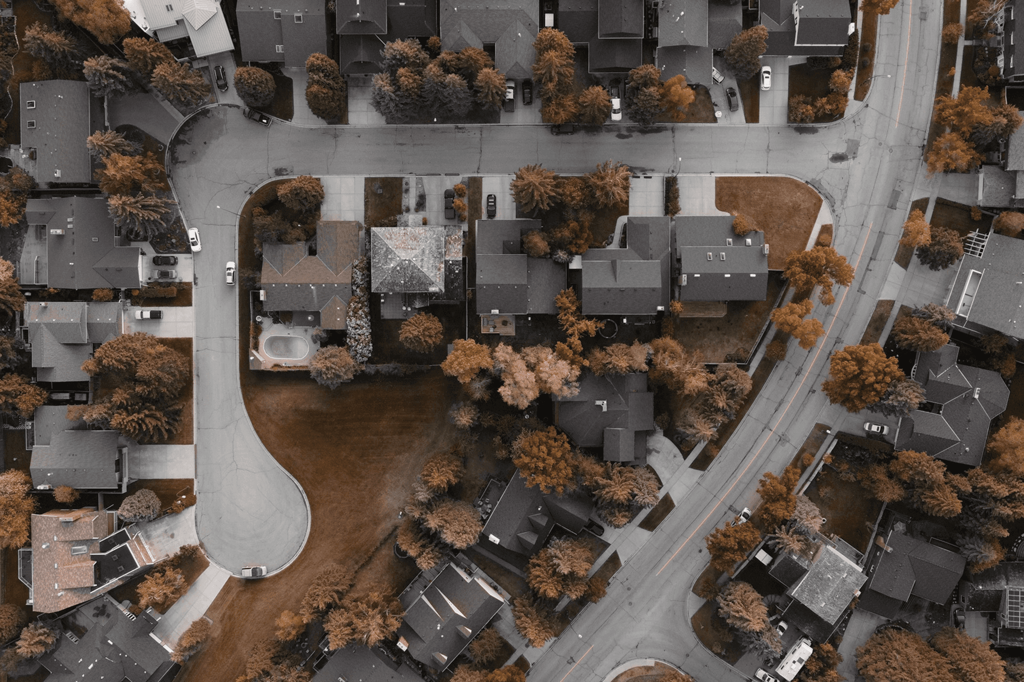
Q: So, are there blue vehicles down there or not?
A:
No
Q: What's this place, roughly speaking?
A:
residential area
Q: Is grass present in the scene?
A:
Yes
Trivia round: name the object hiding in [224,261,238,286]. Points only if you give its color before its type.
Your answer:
white car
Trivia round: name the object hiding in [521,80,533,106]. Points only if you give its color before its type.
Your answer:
black vehicle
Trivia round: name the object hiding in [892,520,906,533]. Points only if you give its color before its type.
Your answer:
gray umbrella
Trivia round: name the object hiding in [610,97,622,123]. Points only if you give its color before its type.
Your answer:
white vehicle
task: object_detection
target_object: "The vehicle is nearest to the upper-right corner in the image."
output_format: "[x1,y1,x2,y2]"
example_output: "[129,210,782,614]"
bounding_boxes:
[759,66,772,91]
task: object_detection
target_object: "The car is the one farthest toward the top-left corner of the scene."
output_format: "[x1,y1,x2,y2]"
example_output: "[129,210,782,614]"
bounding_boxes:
[213,65,230,92]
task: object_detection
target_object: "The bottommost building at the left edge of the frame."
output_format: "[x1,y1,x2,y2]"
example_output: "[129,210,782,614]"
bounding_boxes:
[28,610,174,682]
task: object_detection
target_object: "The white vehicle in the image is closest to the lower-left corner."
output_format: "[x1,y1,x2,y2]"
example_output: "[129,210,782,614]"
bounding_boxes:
[241,566,269,578]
